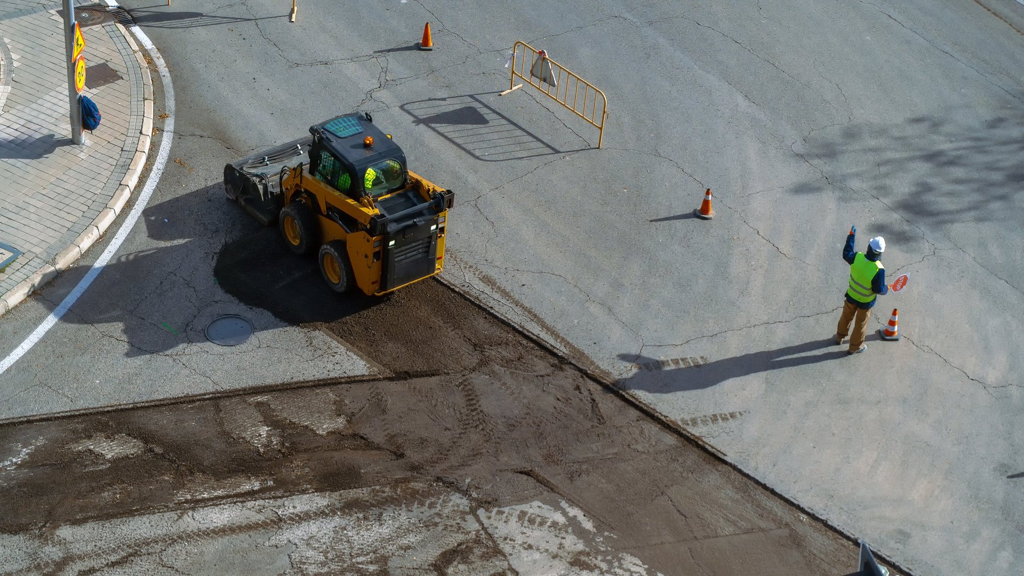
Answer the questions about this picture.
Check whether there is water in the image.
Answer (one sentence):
No, there's no water in this view.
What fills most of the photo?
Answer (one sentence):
For the most part, this view shows paved ground.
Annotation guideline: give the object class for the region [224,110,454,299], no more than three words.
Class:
work vehicle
